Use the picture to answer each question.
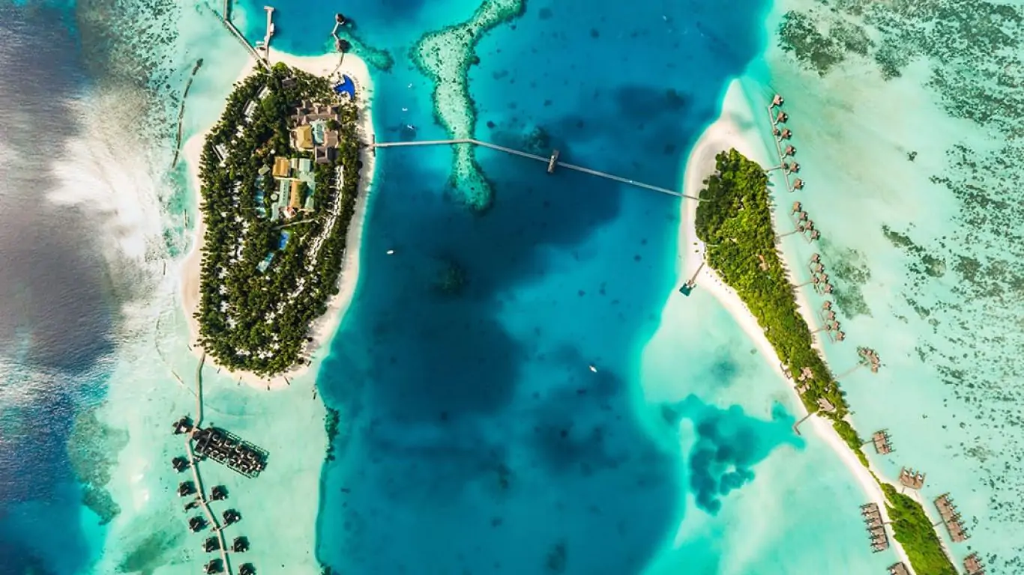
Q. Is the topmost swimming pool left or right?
left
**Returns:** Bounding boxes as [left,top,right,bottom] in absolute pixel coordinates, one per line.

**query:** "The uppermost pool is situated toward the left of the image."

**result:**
[332,73,355,99]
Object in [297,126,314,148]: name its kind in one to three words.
building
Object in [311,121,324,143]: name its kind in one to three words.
swimming pool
